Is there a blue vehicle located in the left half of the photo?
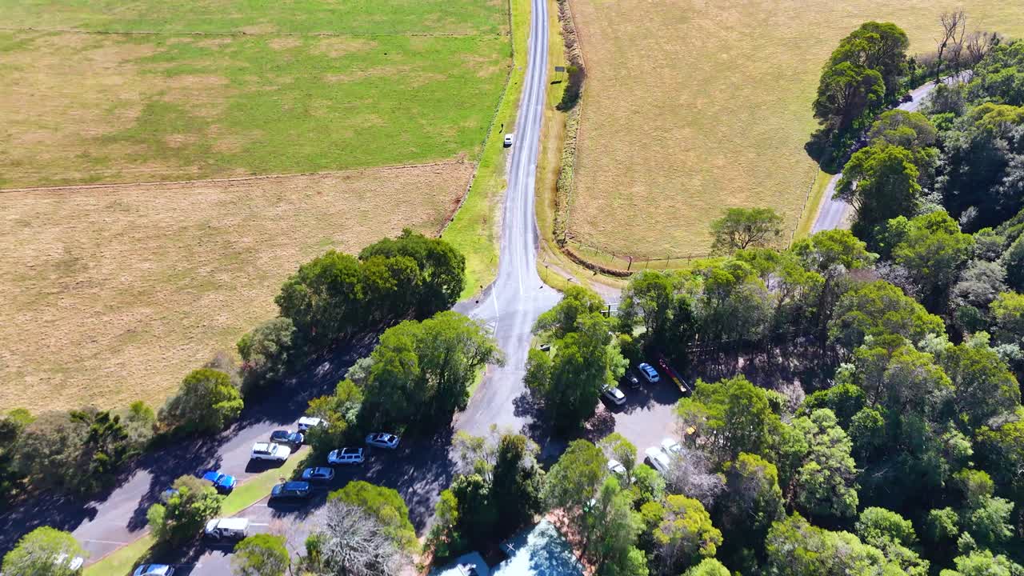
Yes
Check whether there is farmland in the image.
Yes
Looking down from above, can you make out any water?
No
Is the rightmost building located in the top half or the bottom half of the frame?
bottom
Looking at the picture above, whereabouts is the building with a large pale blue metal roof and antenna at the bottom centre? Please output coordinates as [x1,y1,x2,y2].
[487,519,598,576]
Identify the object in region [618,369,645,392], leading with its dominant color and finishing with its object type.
black car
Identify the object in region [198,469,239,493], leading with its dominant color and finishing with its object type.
blue car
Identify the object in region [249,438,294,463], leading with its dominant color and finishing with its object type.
white car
